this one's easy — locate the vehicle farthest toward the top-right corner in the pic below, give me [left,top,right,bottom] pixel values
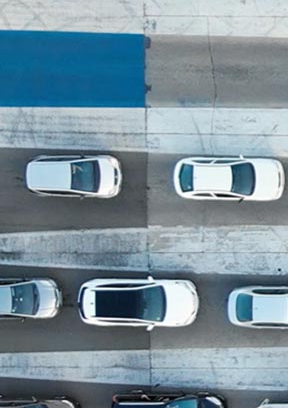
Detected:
[173,154,287,205]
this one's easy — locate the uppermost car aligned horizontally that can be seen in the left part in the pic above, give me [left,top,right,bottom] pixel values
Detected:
[23,152,123,201]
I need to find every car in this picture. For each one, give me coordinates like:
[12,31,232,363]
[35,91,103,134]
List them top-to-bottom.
[23,152,123,201]
[173,154,287,205]
[0,275,64,324]
[77,277,201,330]
[228,285,288,330]
[109,391,228,408]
